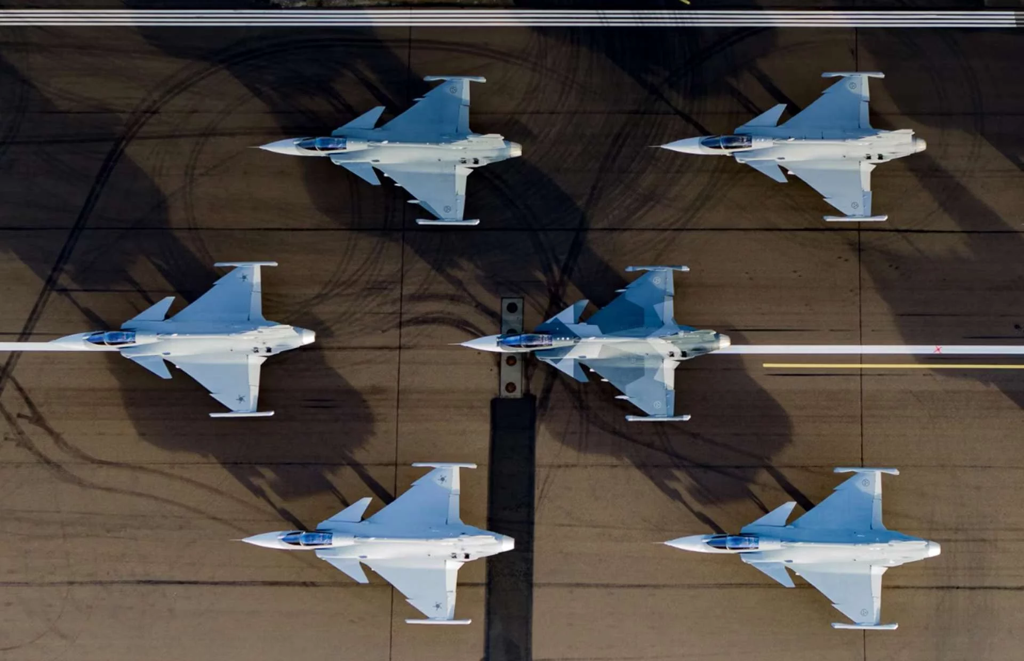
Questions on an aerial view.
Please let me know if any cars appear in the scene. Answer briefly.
No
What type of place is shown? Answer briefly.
airport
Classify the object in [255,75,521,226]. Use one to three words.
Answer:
airplane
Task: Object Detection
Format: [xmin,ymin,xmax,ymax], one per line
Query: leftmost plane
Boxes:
[40,260,316,419]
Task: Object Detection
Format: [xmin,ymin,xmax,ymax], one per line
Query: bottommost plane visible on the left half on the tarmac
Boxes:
[238,463,515,625]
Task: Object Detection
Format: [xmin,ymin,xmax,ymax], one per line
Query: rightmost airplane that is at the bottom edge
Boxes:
[664,467,941,631]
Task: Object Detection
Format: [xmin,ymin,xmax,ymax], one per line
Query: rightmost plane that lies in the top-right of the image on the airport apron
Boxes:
[648,70,927,223]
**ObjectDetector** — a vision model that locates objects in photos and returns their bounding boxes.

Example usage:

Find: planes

[459,265,731,422]
[40,260,316,419]
[664,467,941,631]
[238,463,515,625]
[648,70,927,223]
[255,75,521,226]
